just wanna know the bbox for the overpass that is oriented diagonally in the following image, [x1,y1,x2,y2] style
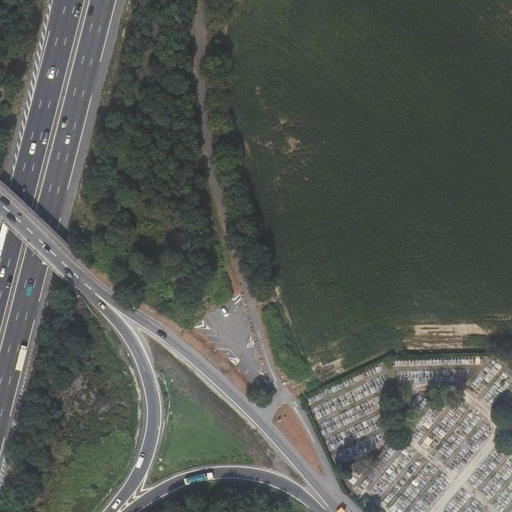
[0,180,92,294]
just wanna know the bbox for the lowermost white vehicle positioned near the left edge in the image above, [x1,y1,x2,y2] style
[14,344,28,372]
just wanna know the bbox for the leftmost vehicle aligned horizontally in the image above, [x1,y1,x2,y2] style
[184,473,214,485]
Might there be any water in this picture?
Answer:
No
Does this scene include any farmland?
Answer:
Yes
